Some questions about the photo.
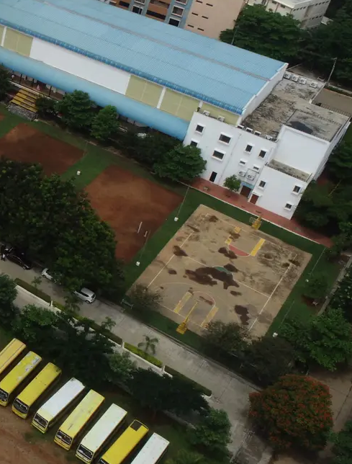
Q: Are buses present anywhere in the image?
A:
Yes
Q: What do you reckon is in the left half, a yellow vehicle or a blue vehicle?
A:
yellow vehicle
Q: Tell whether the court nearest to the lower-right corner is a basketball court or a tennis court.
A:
basketball court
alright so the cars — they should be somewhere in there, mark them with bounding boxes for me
[7,251,31,268]
[43,269,62,284]
[74,289,98,305]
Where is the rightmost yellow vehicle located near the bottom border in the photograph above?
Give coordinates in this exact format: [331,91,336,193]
[101,420,148,464]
